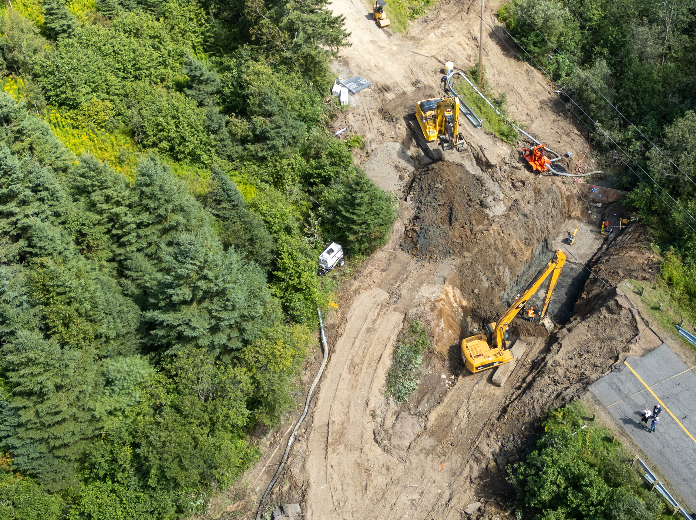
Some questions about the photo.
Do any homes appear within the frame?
No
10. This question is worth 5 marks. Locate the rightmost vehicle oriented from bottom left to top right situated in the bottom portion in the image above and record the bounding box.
[460,248,566,388]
